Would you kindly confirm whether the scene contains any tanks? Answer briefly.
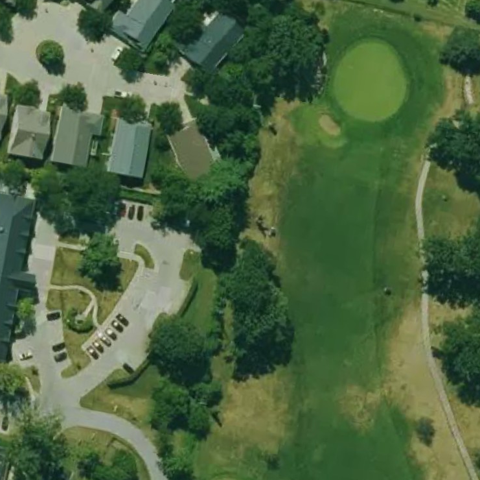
No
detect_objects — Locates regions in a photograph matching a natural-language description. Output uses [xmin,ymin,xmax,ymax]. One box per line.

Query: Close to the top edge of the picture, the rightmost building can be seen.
[182,11,243,73]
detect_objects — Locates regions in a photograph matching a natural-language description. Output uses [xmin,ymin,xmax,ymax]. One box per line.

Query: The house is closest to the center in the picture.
[168,123,213,178]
